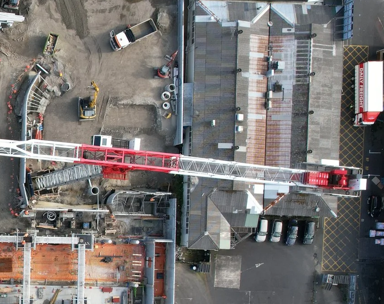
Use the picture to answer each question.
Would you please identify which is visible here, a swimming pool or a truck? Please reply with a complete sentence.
Looking from above, you can make out a truck.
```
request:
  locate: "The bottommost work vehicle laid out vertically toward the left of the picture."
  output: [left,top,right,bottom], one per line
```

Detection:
[78,76,99,121]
